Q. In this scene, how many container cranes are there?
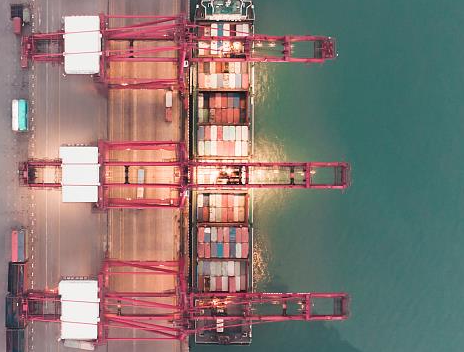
3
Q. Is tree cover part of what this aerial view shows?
No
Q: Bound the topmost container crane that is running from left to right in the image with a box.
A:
[20,15,340,106]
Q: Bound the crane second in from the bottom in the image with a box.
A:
[20,140,353,210]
